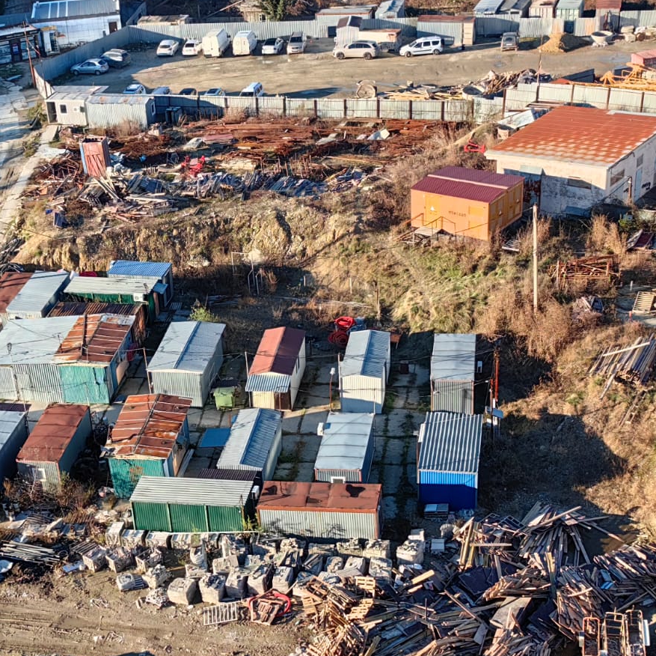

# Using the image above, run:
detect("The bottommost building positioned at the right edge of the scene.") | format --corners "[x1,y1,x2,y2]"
[482,102,656,216]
